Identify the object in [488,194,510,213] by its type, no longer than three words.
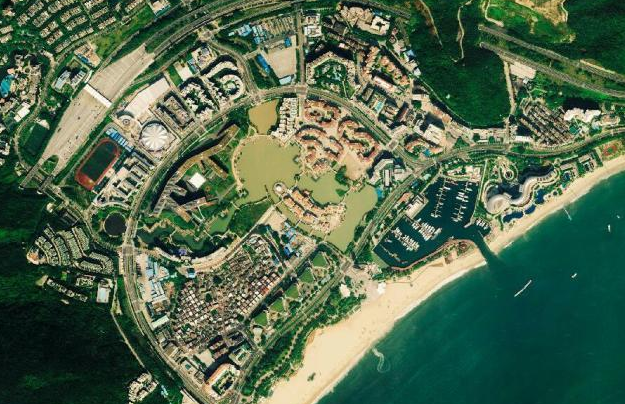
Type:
building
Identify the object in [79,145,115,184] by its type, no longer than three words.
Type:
sports field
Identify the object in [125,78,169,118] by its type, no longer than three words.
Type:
building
